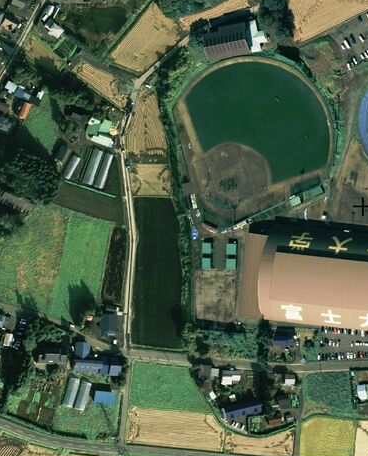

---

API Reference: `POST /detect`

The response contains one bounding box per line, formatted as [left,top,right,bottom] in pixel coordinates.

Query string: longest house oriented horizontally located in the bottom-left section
[73,361,123,376]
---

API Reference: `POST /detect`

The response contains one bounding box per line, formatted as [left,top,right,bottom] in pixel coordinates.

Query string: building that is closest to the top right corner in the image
[203,20,269,64]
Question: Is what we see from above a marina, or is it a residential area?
residential area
